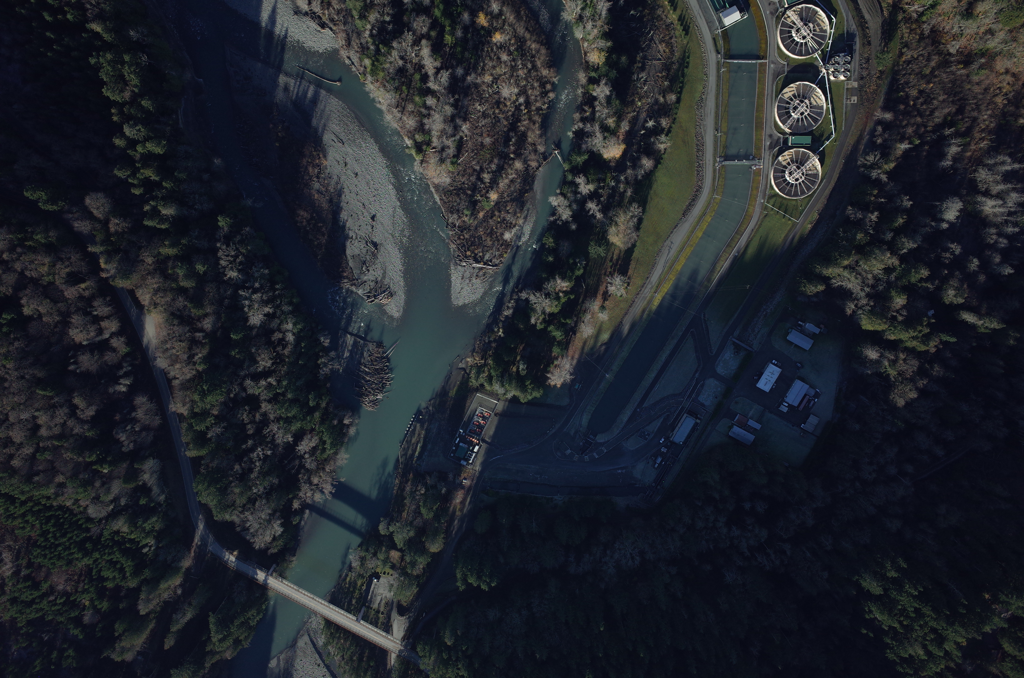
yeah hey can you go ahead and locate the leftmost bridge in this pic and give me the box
[219,544,412,660]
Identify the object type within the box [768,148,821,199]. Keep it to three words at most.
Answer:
storage tank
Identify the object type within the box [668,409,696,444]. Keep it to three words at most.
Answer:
building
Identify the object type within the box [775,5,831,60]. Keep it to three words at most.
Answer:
storage tank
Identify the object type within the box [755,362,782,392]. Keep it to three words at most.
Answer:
building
